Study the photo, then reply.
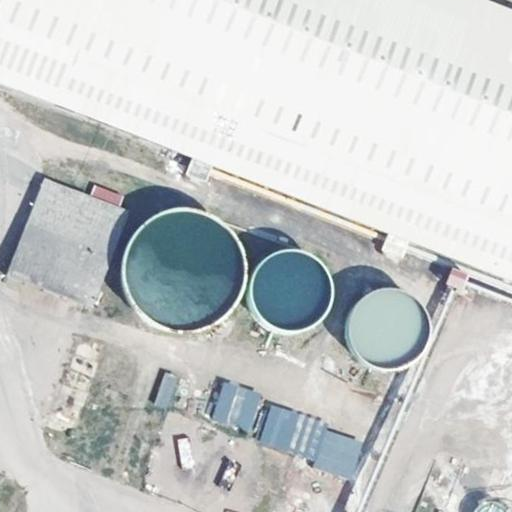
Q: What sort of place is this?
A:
industrial area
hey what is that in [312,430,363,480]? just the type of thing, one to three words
shed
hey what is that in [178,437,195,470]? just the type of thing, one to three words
vehicle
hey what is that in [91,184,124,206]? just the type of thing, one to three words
shed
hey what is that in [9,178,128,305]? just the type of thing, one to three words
building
